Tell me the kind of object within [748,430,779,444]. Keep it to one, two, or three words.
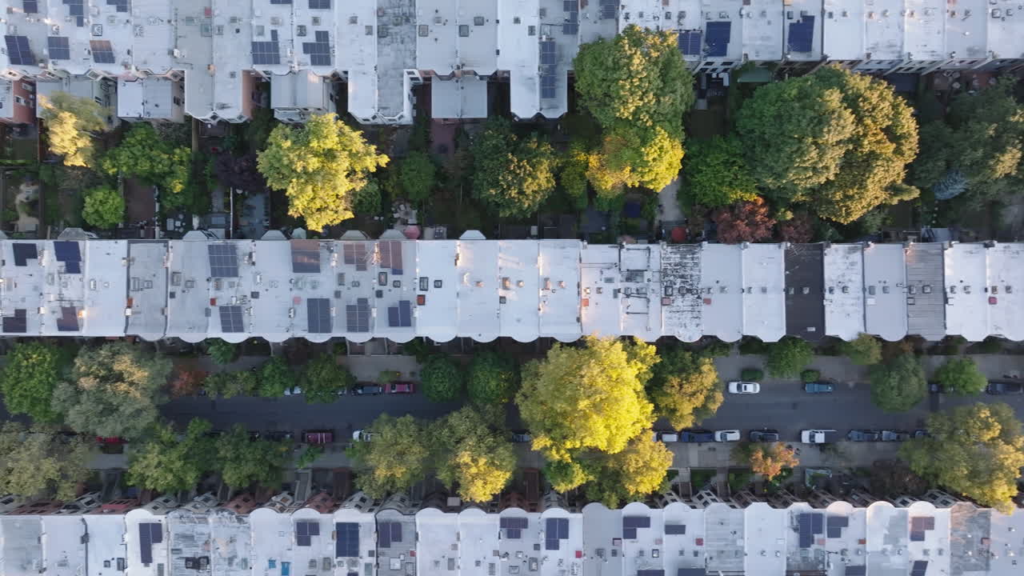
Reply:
car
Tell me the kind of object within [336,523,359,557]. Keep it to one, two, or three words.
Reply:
solar array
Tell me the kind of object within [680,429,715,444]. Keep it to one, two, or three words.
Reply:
vehicle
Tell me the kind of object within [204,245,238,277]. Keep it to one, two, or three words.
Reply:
solar array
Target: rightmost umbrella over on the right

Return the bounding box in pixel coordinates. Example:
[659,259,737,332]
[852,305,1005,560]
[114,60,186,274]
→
[671,225,686,240]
